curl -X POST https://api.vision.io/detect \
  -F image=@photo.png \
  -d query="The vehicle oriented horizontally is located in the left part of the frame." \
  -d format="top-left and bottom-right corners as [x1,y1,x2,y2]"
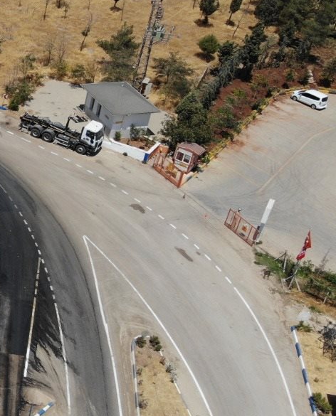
[24,115,108,156]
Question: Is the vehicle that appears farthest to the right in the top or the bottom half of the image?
top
